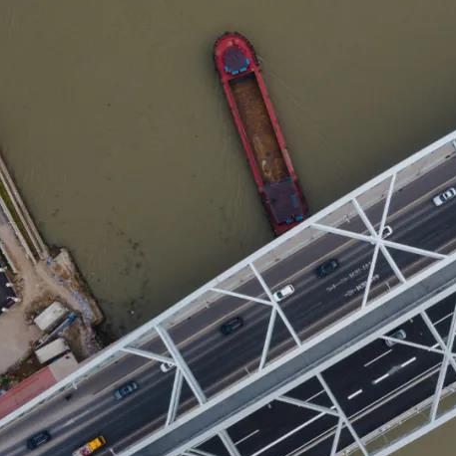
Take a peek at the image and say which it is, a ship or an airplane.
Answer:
ship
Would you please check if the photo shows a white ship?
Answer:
No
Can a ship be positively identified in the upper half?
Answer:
Yes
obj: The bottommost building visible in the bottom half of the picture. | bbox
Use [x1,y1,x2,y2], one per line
[35,338,74,364]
